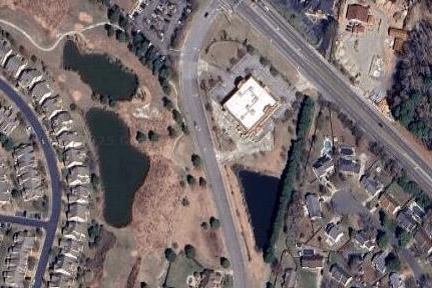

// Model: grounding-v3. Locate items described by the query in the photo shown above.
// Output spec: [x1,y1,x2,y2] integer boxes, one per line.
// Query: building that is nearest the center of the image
[224,75,276,129]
